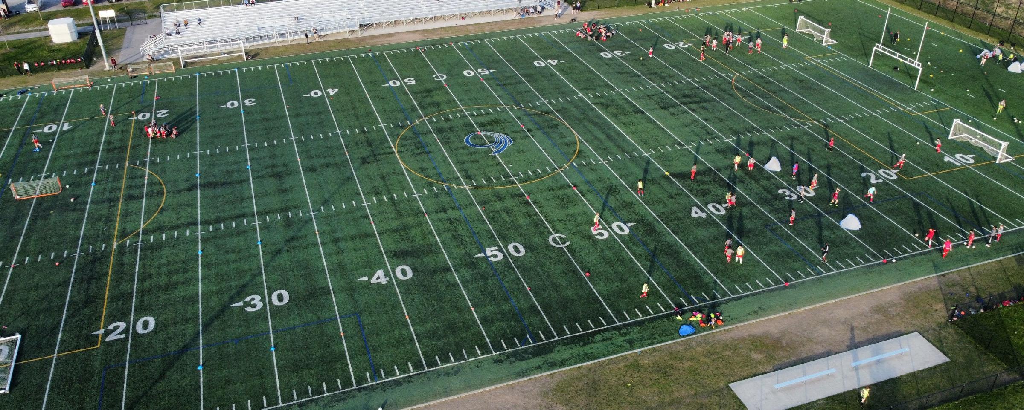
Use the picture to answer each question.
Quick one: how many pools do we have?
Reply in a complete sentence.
The photo contains no pools.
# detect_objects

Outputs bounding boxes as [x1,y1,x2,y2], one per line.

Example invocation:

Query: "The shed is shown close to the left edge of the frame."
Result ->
[44,17,82,45]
